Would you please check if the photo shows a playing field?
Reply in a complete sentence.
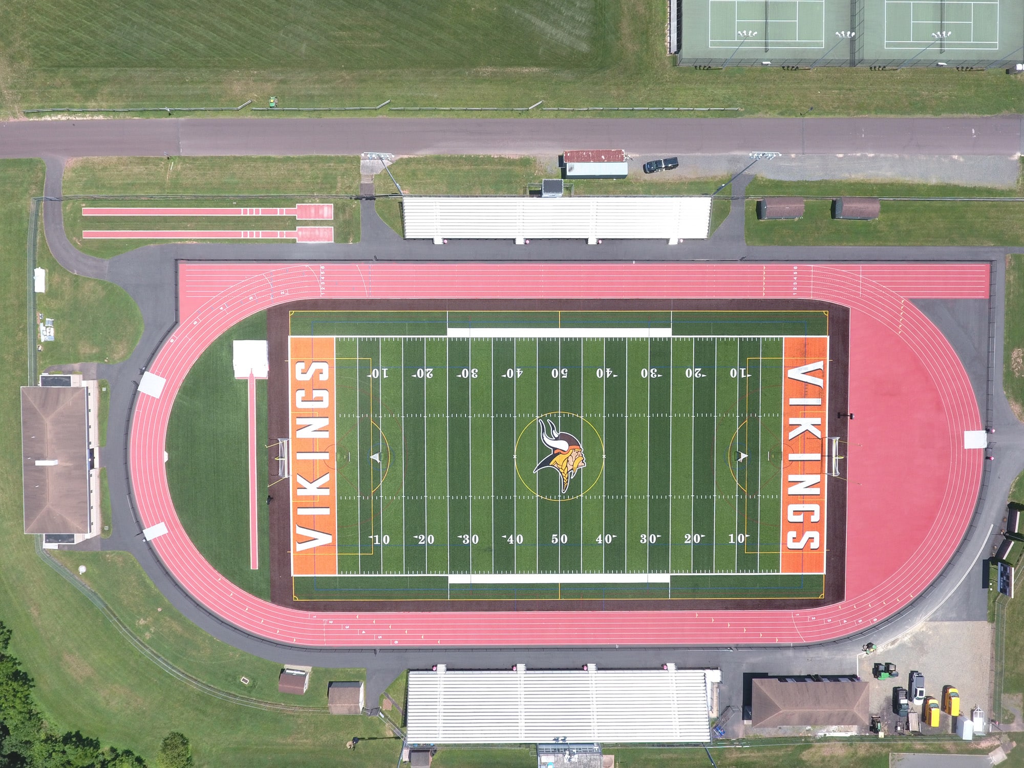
Yes, a playing field can be made out from above.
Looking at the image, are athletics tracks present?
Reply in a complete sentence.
Yes, there's an athletics track here.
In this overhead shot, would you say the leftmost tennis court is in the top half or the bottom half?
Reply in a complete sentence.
The top half of the photo is where the leftmost tennis court is.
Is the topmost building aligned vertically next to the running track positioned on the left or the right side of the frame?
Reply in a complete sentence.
It is on the left.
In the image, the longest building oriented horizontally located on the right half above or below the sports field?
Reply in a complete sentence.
The position of the longest building oriented horizontally located on the right half is below the sports field.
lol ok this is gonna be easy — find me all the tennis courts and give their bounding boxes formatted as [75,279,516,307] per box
[677,0,856,67]
[856,0,1021,68]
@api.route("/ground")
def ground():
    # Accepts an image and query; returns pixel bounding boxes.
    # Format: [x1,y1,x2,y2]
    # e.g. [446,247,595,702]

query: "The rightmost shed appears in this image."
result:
[835,197,884,219]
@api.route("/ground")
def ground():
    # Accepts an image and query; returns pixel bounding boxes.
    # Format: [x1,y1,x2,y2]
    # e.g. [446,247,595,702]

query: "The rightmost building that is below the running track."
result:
[744,670,870,728]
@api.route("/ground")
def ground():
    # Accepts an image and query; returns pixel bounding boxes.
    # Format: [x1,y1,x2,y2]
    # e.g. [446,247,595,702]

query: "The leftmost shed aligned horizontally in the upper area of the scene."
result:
[760,197,806,218]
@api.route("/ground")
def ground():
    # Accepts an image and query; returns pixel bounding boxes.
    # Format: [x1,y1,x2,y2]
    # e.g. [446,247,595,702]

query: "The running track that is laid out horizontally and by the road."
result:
[129,264,990,646]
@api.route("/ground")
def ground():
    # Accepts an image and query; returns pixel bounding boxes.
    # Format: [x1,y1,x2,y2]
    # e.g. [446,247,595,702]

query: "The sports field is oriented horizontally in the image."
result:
[165,298,850,613]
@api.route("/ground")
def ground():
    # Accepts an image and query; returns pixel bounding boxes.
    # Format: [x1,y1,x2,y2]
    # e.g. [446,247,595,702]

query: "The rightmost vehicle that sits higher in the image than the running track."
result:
[645,155,679,172]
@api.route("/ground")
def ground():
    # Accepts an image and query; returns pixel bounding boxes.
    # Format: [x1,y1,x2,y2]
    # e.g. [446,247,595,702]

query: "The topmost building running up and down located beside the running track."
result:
[20,374,104,548]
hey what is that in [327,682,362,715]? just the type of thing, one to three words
shed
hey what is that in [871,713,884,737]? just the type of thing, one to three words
vehicle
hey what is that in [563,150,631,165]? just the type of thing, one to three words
trailer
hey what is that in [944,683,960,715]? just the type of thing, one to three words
vehicle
